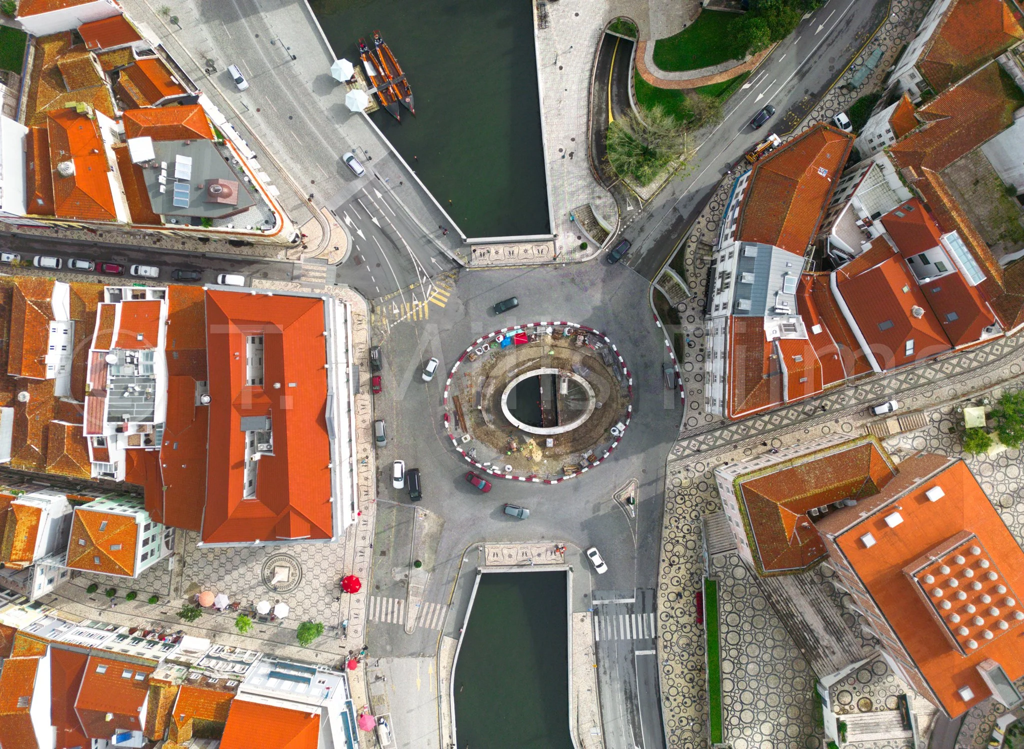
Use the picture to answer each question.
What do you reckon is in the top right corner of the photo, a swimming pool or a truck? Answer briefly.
truck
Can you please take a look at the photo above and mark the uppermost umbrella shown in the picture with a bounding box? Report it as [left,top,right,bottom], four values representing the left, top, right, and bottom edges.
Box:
[332,60,355,83]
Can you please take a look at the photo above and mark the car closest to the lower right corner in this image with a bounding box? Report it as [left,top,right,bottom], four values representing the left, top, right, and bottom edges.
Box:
[869,400,897,417]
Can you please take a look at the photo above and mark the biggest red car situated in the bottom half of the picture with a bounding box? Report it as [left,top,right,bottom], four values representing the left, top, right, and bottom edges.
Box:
[464,471,492,493]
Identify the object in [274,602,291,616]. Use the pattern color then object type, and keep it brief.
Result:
white umbrella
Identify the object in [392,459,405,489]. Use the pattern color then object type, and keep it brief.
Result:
white vehicle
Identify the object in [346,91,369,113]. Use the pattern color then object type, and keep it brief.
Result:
white umbrella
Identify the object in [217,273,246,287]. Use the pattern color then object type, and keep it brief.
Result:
white car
